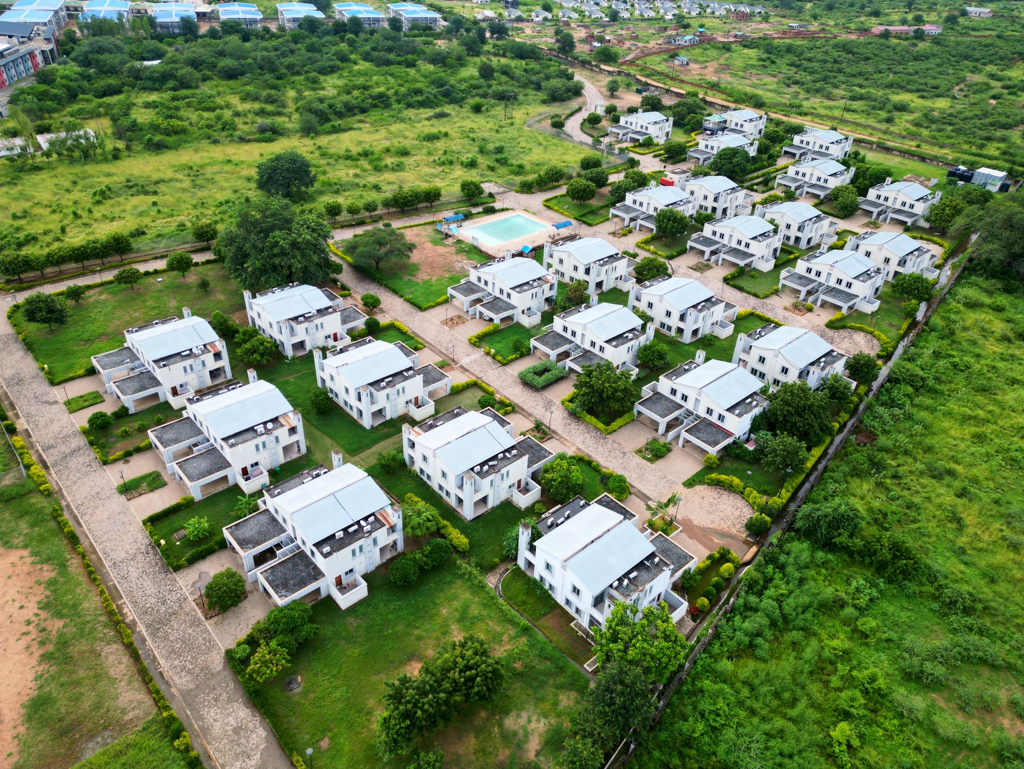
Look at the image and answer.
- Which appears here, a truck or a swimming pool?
swimming pool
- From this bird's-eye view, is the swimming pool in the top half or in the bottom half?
top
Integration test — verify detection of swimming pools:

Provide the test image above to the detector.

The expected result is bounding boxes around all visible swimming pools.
[434,209,580,259]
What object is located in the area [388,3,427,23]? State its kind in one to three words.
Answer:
building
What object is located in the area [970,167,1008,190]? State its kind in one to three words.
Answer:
building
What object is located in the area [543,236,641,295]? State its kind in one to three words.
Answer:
house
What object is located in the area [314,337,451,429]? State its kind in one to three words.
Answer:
house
